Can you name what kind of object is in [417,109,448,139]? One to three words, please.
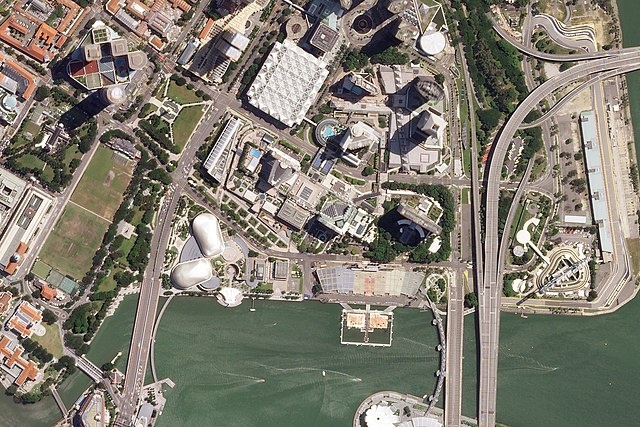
building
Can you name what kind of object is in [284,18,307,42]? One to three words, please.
building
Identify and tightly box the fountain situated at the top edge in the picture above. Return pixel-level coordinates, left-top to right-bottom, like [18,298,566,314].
[353,14,372,34]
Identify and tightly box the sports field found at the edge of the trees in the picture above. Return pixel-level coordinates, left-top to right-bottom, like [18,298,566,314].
[38,143,135,276]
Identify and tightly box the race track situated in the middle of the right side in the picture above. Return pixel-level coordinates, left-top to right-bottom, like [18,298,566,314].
[500,69,628,310]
